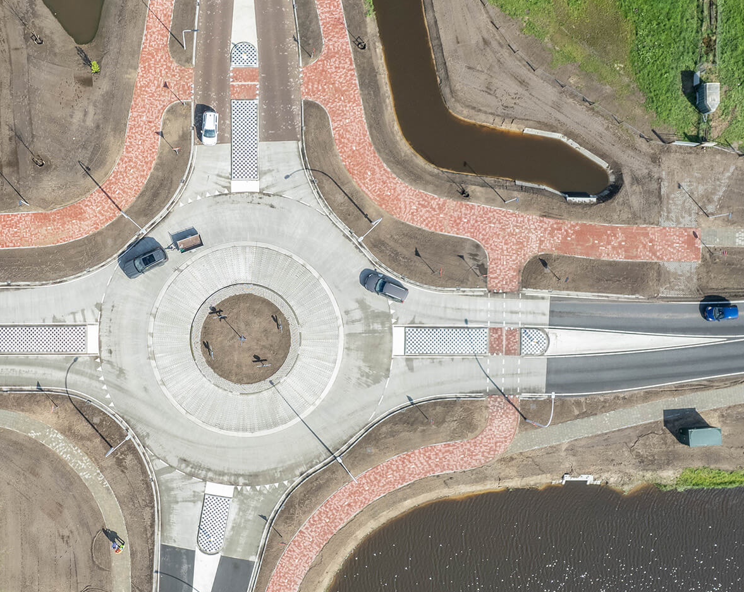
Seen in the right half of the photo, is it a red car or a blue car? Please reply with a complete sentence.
The one visible in the right half of the photo is a blue car.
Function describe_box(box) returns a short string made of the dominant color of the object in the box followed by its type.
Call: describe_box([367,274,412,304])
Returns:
gray car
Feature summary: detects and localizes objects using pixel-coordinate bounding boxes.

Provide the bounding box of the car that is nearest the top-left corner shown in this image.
[199,108,220,146]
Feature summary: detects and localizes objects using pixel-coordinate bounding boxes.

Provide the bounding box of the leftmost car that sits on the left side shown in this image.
[124,249,172,281]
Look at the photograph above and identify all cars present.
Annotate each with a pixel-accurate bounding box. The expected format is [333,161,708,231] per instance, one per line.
[367,274,412,304]
[704,303,742,322]
[199,108,220,146]
[124,249,172,281]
